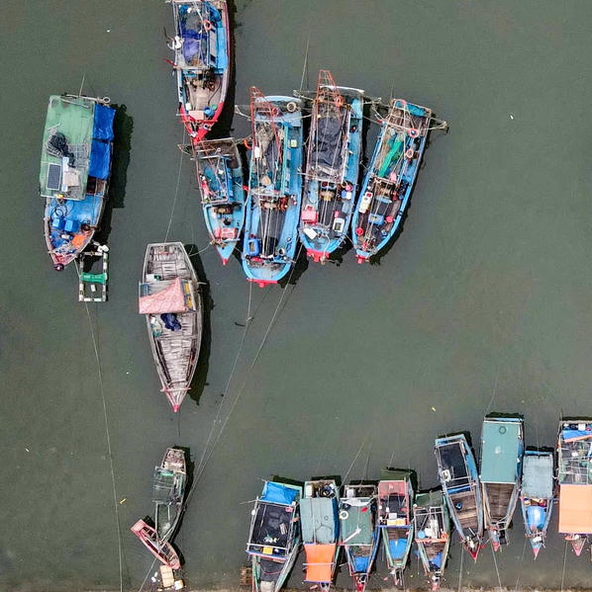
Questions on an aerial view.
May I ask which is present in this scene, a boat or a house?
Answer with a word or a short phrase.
boat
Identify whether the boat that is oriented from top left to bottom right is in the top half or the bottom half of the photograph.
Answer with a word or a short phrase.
bottom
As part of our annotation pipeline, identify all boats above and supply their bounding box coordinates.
[130,519,181,572]
[480,416,524,554]
[41,82,118,270]
[300,477,342,592]
[434,433,482,562]
[520,450,557,561]
[557,419,592,556]
[414,491,451,591]
[377,472,415,589]
[139,241,207,411]
[235,478,302,592]
[190,138,247,264]
[294,70,380,263]
[338,484,379,592]
[153,447,188,550]
[353,82,446,266]
[163,0,229,146]
[235,87,310,288]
